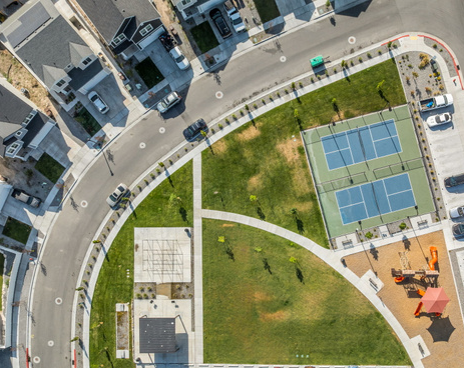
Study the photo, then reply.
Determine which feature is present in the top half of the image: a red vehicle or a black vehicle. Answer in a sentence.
What appears in the top half of the image is a black vehicle.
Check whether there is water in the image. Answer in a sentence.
No, the picture contains no water.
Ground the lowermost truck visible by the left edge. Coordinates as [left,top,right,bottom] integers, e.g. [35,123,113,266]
[9,186,43,207]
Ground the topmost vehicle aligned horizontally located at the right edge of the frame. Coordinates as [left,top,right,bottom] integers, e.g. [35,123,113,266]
[418,94,453,112]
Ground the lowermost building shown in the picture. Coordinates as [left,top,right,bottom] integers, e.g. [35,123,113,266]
[138,317,177,353]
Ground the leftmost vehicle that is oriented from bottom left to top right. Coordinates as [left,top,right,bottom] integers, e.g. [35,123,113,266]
[106,182,129,208]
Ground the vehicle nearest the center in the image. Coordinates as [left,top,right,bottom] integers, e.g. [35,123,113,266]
[182,120,208,139]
